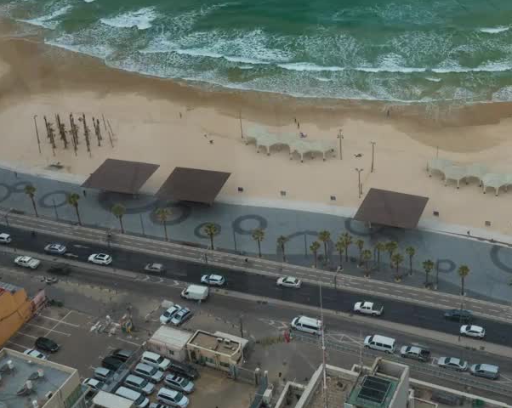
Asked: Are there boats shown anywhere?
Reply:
No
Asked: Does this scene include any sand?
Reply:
Yes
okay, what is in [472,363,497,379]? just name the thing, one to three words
car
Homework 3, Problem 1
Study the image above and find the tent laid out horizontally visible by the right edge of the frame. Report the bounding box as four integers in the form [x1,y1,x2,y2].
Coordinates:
[424,162,512,204]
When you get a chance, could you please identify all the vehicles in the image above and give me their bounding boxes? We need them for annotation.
[122,373,153,393]
[89,254,112,266]
[130,361,159,381]
[202,274,224,286]
[116,385,147,407]
[354,302,382,316]
[86,377,113,392]
[445,308,471,322]
[144,264,164,273]
[472,363,497,379]
[364,333,395,351]
[168,362,195,378]
[164,372,193,392]
[102,352,124,368]
[161,306,183,321]
[140,351,170,370]
[171,309,192,325]
[14,256,40,269]
[460,324,484,338]
[156,386,187,407]
[35,336,58,353]
[276,277,301,289]
[402,346,429,361]
[439,357,465,372]
[291,314,322,333]
[181,282,209,300]
[93,363,115,378]
[0,233,12,243]
[23,348,49,360]
[45,243,67,255]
